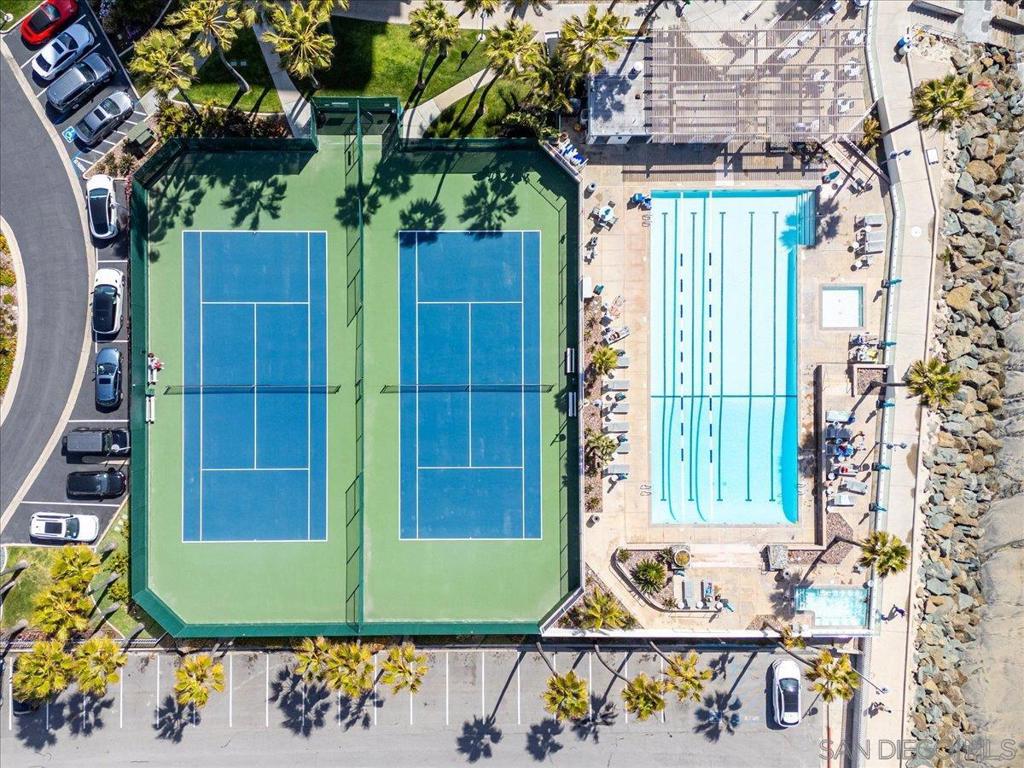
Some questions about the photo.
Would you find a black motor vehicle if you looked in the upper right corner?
No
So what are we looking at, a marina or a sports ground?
sports ground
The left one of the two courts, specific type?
tennis court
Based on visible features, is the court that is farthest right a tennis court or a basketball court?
tennis court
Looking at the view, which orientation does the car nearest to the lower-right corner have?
up and down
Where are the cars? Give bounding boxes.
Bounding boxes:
[18,0,81,47]
[46,54,114,109]
[64,471,129,500]
[770,656,800,726]
[27,512,102,543]
[81,175,120,242]
[89,268,126,334]
[89,348,123,410]
[72,91,136,146]
[59,428,129,458]
[29,26,96,80]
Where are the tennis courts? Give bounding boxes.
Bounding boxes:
[363,111,577,624]
[149,111,363,625]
